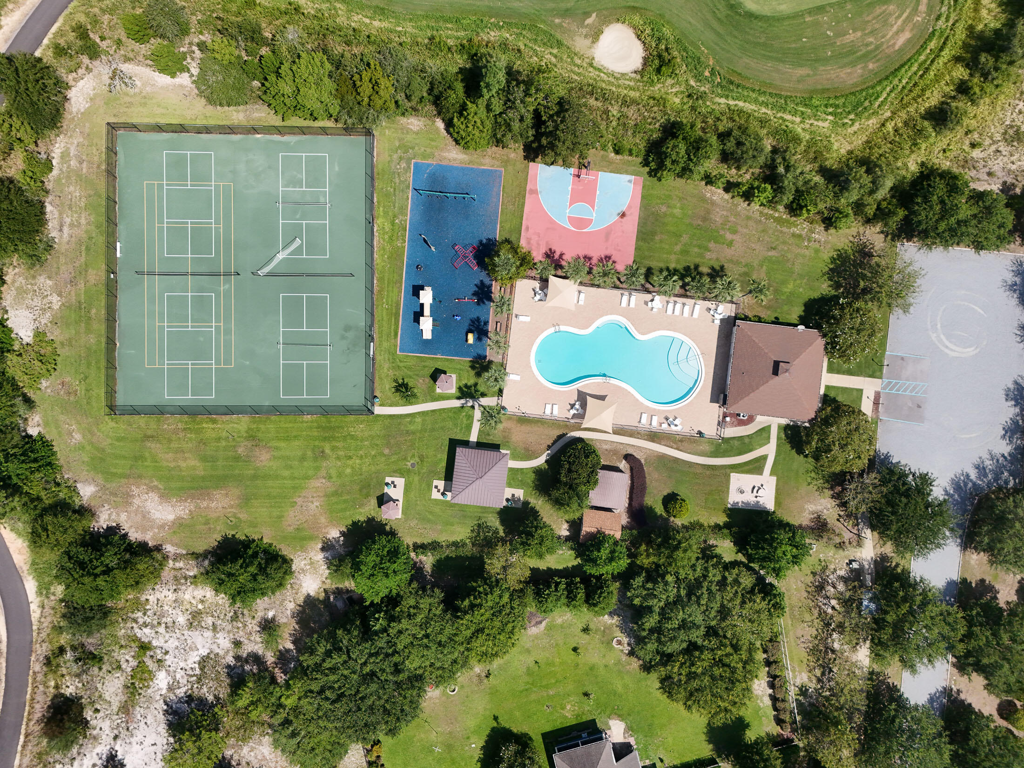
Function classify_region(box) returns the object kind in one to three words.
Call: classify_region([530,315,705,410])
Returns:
swimming pool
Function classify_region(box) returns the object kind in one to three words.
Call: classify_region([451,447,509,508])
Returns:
building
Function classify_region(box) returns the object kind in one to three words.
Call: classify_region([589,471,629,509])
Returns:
shed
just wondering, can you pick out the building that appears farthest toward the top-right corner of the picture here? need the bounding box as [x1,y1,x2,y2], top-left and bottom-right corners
[723,320,826,421]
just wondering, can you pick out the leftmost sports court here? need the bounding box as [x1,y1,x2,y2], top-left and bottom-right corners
[117,132,375,414]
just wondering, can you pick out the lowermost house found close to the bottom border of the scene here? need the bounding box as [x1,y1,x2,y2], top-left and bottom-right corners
[551,721,645,768]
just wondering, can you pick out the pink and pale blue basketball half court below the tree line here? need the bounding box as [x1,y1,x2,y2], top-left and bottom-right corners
[518,162,643,272]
